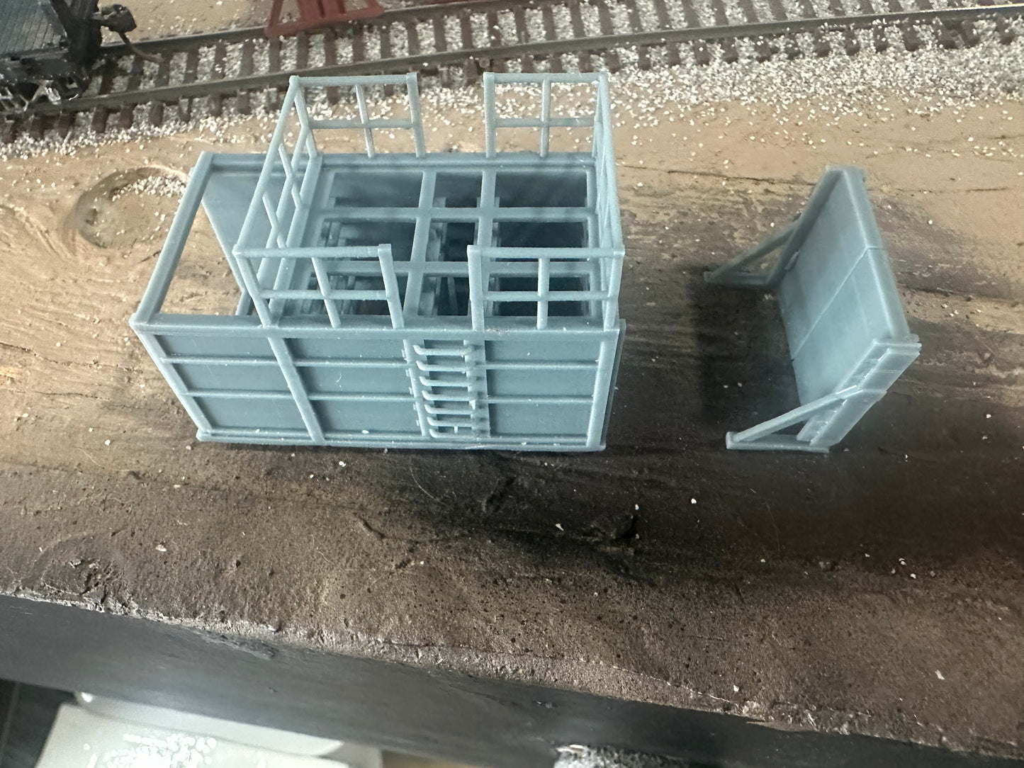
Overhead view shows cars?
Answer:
No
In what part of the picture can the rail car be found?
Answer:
top left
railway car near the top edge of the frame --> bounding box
[0,0,207,107]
